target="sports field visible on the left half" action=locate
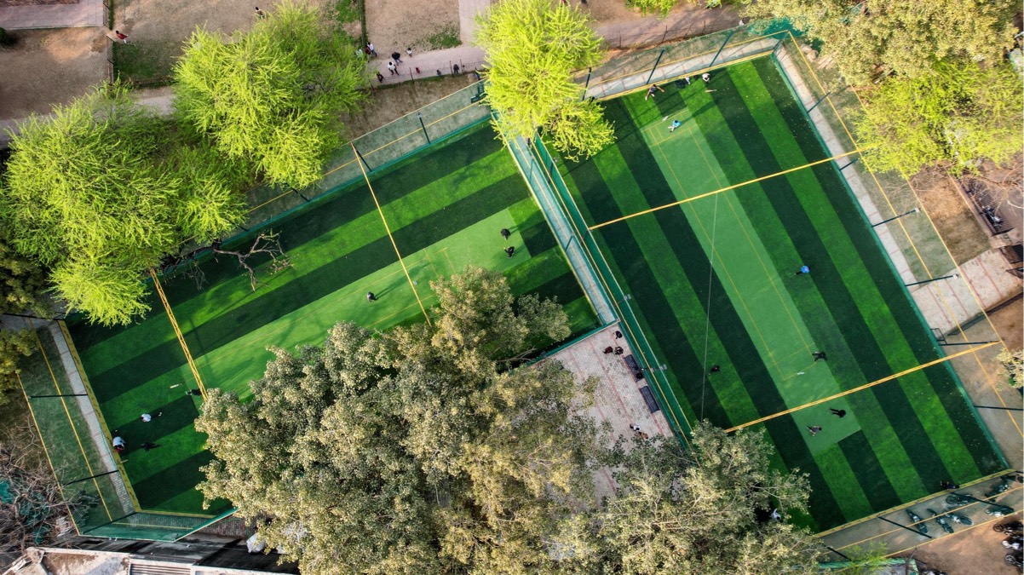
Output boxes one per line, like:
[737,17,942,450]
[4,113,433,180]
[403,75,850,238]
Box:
[63,117,600,516]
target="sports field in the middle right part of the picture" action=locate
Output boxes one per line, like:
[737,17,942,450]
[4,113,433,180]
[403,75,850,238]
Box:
[538,58,1004,547]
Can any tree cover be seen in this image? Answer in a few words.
Yes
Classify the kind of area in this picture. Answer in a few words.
sports ground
